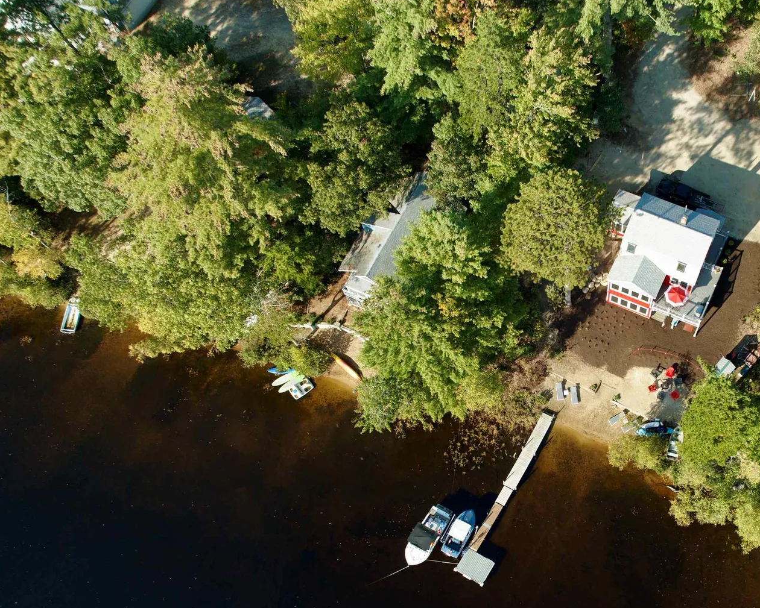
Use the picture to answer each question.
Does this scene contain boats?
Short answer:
Yes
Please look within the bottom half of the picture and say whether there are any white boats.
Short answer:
Yes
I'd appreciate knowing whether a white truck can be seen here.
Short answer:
No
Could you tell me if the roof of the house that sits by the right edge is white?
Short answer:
Yes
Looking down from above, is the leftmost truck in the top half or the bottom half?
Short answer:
top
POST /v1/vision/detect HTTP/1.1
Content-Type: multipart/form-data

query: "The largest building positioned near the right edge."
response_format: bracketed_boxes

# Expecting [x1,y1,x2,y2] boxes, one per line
[604,189,726,318]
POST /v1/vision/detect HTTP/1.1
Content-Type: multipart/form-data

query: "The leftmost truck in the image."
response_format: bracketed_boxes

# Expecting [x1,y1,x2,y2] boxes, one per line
[654,174,712,208]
